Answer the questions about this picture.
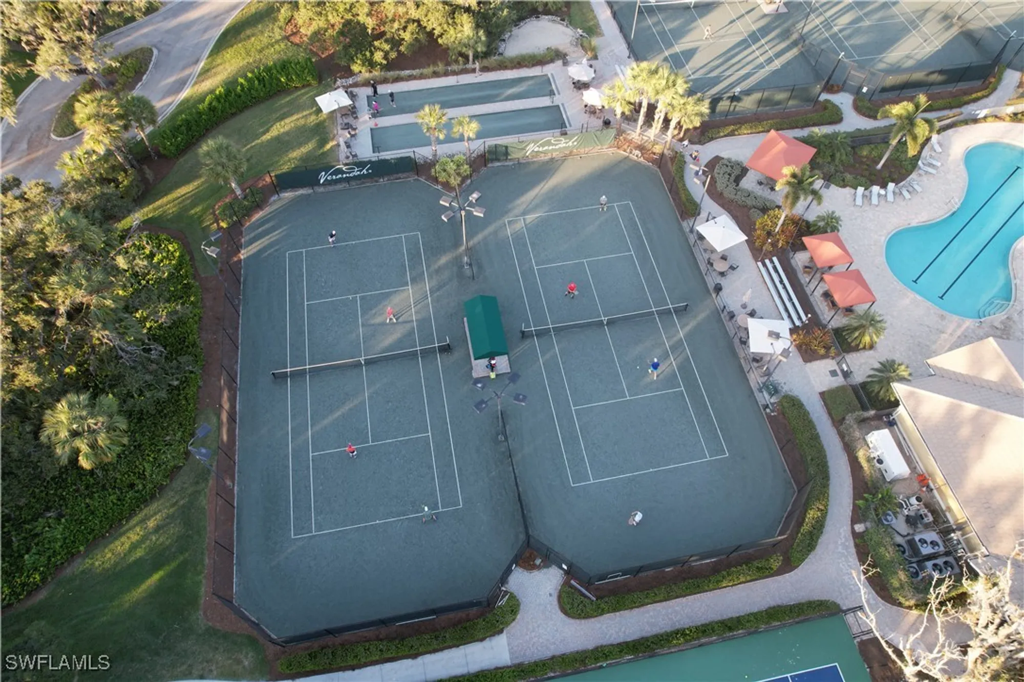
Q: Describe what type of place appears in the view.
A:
sports ground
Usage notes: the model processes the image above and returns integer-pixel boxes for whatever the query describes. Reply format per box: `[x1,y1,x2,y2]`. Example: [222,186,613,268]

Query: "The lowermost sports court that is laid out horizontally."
[571,613,869,682]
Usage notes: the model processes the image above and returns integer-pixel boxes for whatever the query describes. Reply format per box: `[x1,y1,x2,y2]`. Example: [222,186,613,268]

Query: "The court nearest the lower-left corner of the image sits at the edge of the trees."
[233,179,524,640]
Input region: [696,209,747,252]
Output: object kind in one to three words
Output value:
umbrella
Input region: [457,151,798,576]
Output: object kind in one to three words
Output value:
tennis court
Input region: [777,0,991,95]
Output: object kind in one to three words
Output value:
tennis court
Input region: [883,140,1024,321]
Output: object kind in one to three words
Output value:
swimming pool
